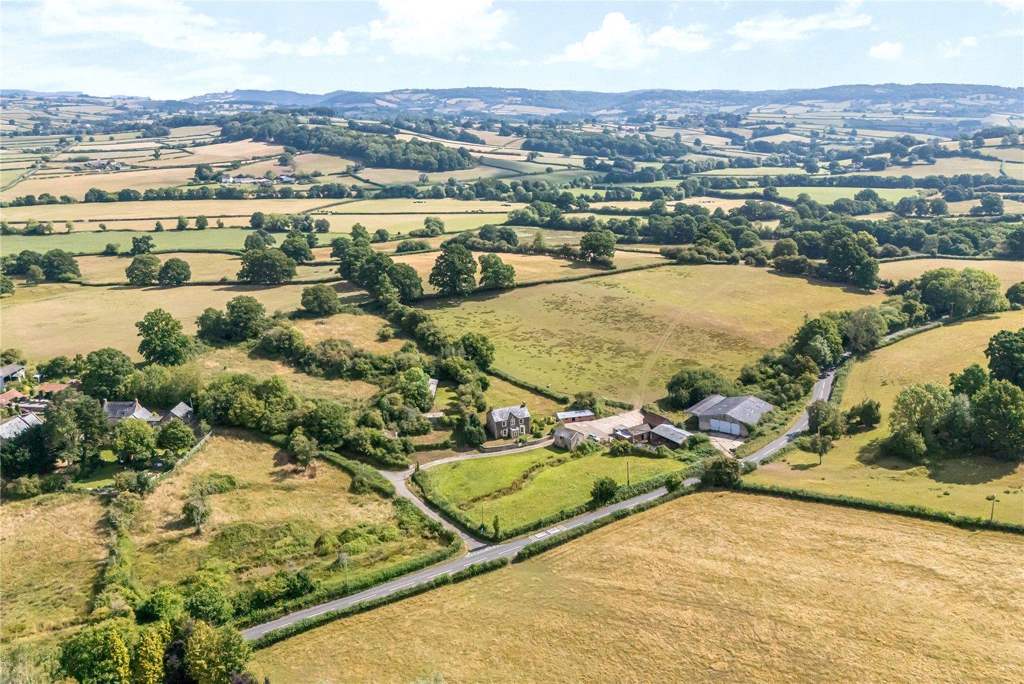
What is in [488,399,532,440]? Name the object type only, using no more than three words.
house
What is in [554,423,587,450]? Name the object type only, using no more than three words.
barn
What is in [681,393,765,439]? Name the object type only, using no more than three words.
barn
